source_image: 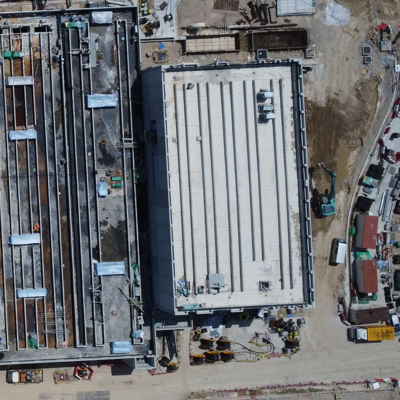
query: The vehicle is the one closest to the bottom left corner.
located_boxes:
[7,369,42,386]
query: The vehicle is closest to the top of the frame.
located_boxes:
[315,168,339,222]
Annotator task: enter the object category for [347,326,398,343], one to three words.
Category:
vehicle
